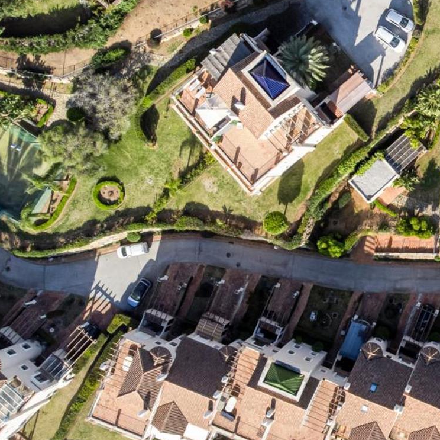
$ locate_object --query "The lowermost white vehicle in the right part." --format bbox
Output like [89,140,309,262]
[370,23,409,55]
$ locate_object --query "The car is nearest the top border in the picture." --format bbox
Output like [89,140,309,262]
[380,7,419,35]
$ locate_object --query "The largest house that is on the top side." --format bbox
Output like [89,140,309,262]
[168,34,374,195]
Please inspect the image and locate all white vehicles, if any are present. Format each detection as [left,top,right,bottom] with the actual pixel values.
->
[116,242,151,260]
[380,7,419,35]
[370,23,409,55]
